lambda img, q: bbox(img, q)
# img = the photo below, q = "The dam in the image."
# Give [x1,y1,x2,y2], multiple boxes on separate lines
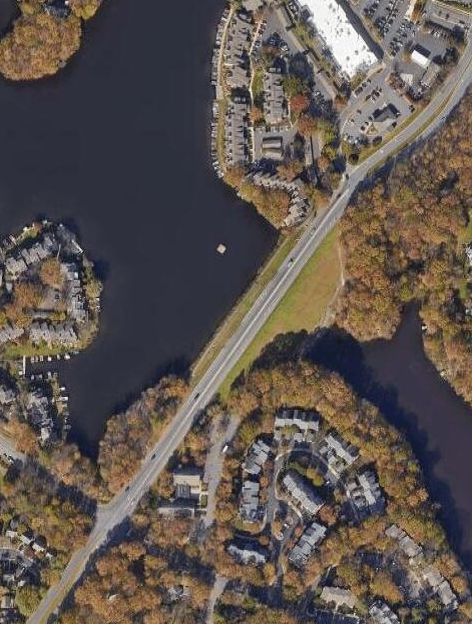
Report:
[189,237,283,377]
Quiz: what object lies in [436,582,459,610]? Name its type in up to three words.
house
